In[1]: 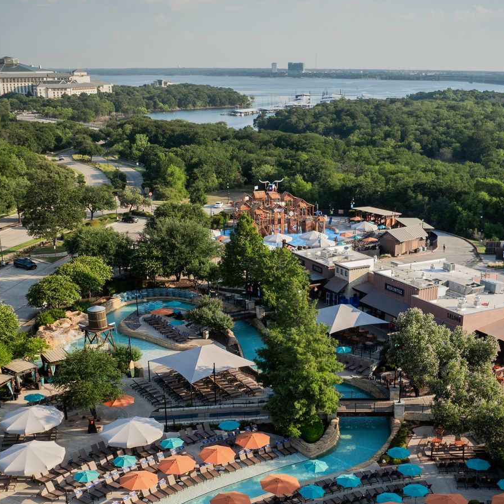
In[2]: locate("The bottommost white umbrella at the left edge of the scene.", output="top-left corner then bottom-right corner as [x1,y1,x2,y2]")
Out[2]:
[0,447,65,501]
